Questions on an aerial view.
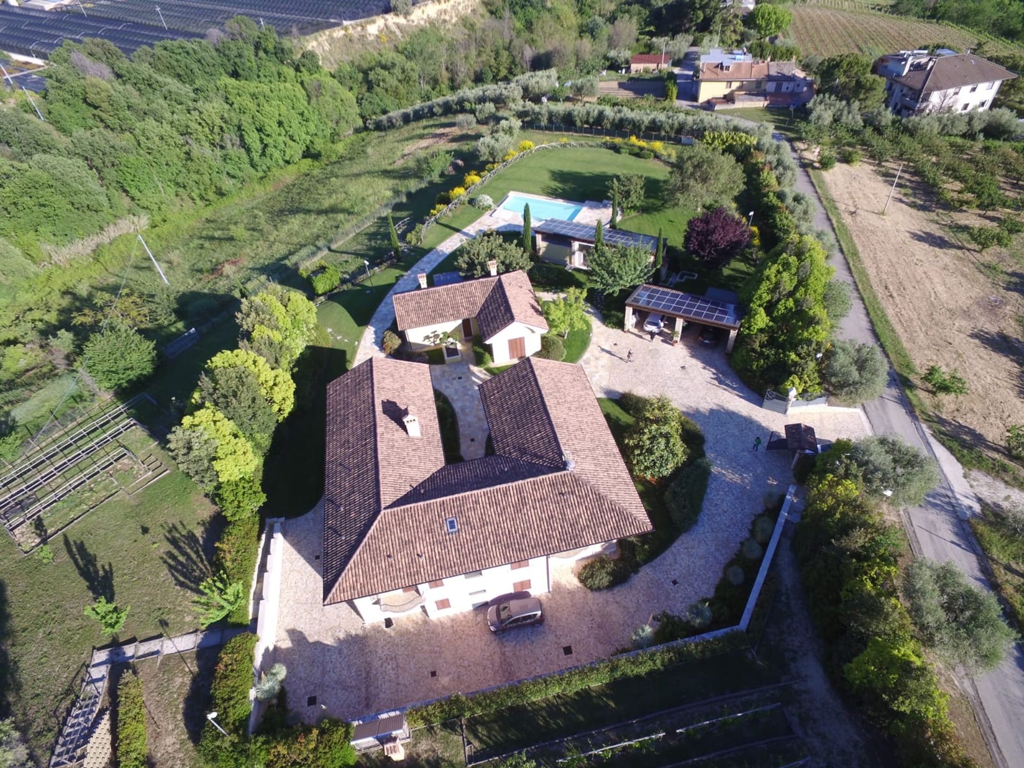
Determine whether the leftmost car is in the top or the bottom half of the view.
bottom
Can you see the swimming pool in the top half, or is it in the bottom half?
top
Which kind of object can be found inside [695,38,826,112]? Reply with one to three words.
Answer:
house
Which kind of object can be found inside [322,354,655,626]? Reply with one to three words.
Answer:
house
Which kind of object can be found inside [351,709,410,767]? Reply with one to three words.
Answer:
shed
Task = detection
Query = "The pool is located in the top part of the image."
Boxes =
[466,190,611,231]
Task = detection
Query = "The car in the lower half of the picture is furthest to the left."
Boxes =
[487,597,545,634]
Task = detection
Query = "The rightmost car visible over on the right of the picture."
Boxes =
[702,326,722,341]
